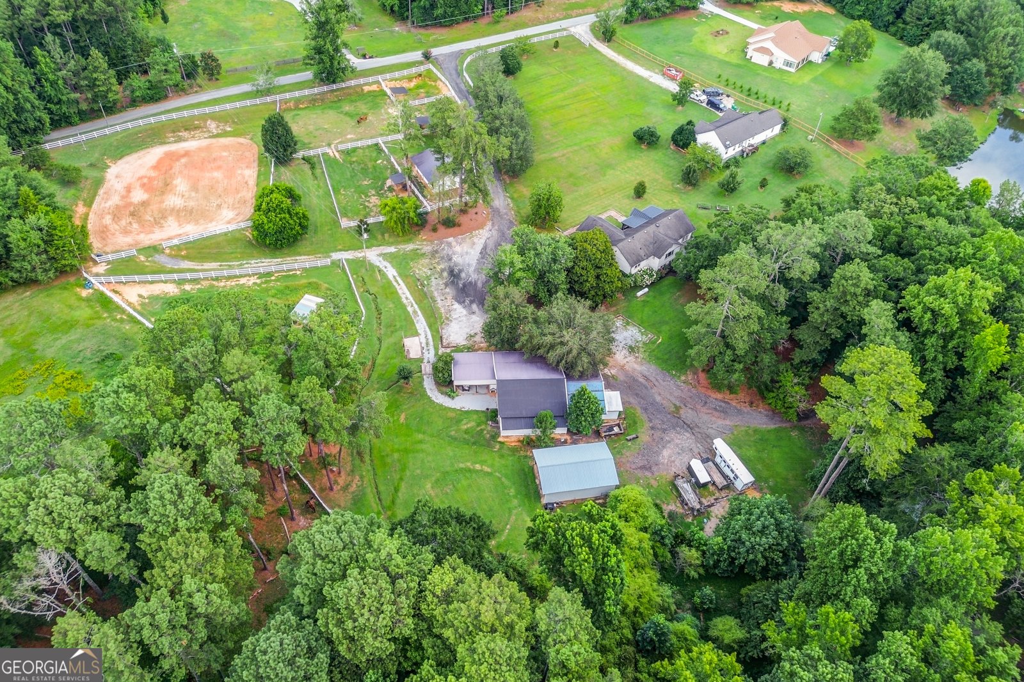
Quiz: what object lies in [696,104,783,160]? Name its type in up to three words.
house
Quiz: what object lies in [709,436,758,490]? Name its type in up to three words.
trailer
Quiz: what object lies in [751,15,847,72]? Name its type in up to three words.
house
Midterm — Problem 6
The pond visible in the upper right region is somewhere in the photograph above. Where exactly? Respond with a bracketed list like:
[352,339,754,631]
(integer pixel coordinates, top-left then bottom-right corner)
[952,111,1024,215]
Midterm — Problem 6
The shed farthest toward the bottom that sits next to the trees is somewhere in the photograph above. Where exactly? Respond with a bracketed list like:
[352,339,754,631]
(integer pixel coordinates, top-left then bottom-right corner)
[533,435,619,503]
